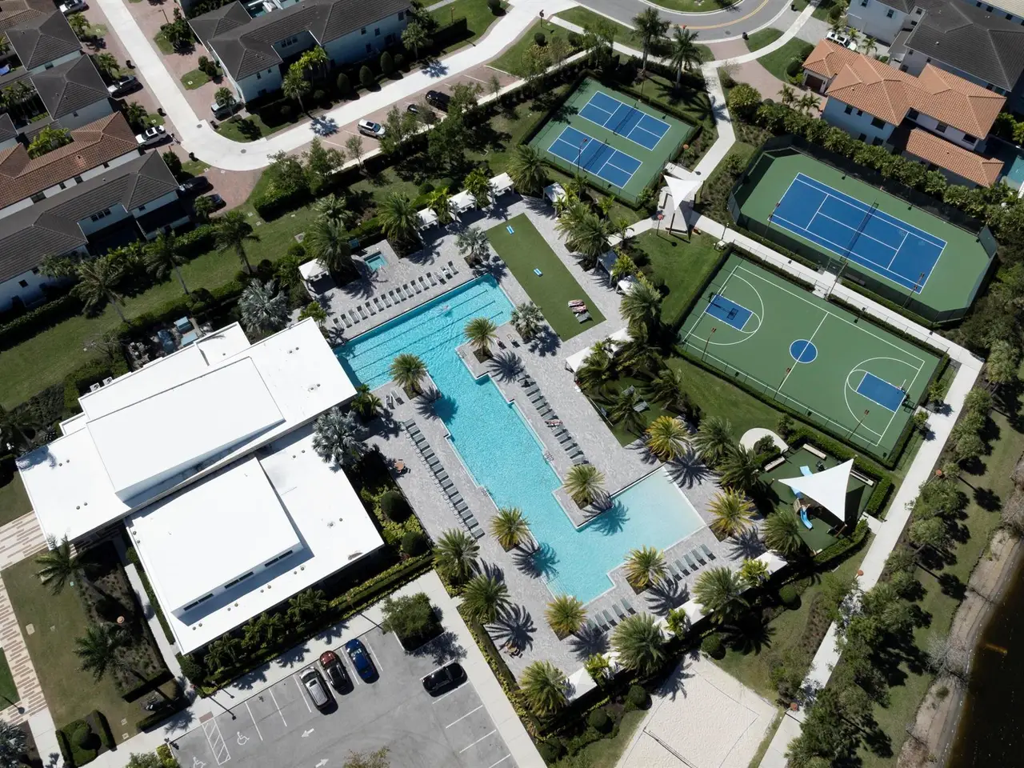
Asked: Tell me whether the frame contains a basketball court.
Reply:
Yes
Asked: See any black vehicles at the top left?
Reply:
Yes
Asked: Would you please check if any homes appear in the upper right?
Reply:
Yes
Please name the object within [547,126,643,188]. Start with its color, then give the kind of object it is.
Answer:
blue sports court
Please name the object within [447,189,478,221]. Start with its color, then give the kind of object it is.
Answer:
white tent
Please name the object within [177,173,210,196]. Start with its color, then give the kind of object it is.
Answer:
black car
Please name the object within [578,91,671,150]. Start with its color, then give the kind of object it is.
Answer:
blue sports court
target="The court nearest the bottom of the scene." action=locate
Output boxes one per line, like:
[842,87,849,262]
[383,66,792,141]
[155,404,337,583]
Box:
[614,649,782,768]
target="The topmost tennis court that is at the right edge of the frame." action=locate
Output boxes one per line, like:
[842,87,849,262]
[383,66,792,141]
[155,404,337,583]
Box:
[735,149,990,310]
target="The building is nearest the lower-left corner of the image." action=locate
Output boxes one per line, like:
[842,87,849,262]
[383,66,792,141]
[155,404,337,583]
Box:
[15,318,386,656]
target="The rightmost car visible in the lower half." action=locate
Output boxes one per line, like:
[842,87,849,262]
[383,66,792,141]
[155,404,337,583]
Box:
[422,662,466,694]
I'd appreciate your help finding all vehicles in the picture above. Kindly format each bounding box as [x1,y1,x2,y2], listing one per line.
[135,124,167,146]
[406,99,434,121]
[57,0,87,13]
[320,652,349,694]
[422,662,466,694]
[425,87,455,109]
[345,640,376,682]
[108,76,139,97]
[299,667,330,710]
[827,28,857,50]
[177,173,210,196]
[195,192,228,215]
[355,116,384,136]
